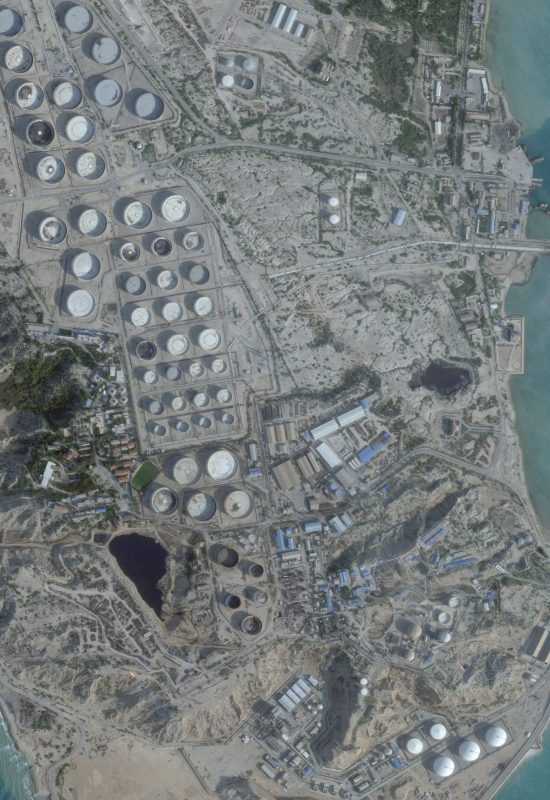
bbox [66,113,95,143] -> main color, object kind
white storage tank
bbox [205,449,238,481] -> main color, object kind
white storage tank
